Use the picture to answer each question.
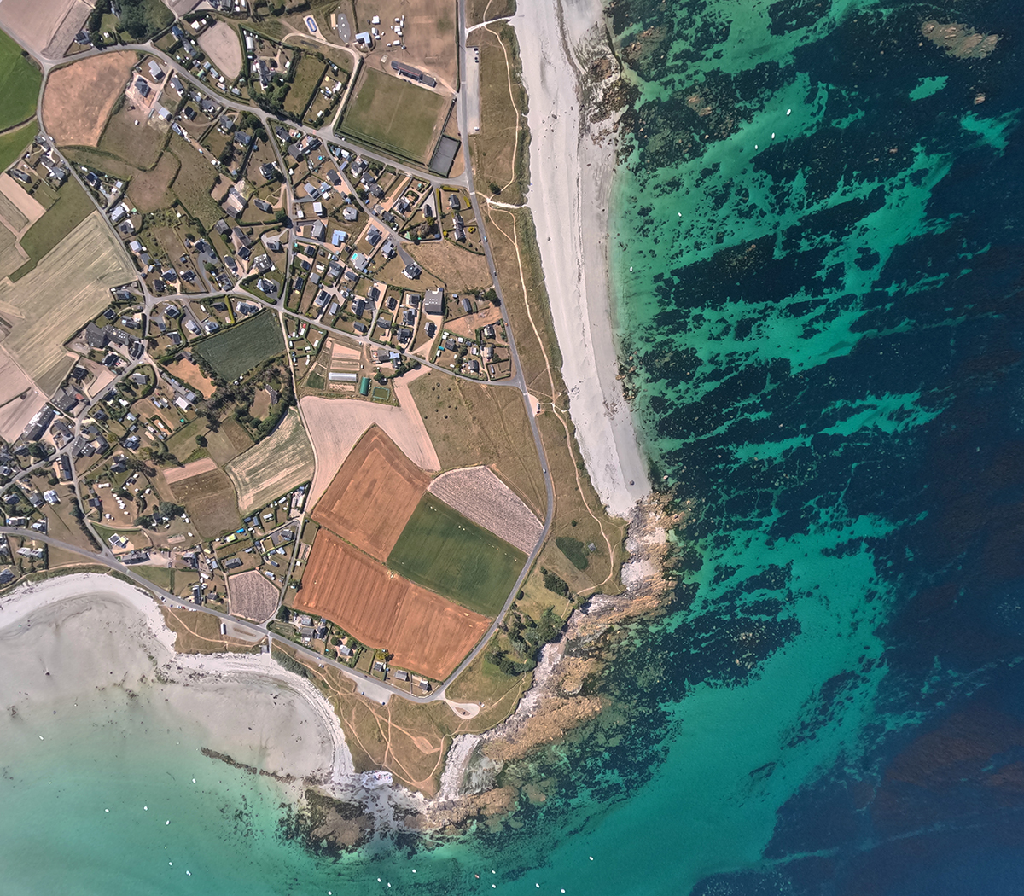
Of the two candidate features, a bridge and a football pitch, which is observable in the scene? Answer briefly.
football pitch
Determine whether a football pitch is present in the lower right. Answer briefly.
No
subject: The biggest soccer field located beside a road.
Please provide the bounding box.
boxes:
[344,69,443,159]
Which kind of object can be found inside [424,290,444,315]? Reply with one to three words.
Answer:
building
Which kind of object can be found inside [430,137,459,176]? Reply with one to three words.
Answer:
tennis court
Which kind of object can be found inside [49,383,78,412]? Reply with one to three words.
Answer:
house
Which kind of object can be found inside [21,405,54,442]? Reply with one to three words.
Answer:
barn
